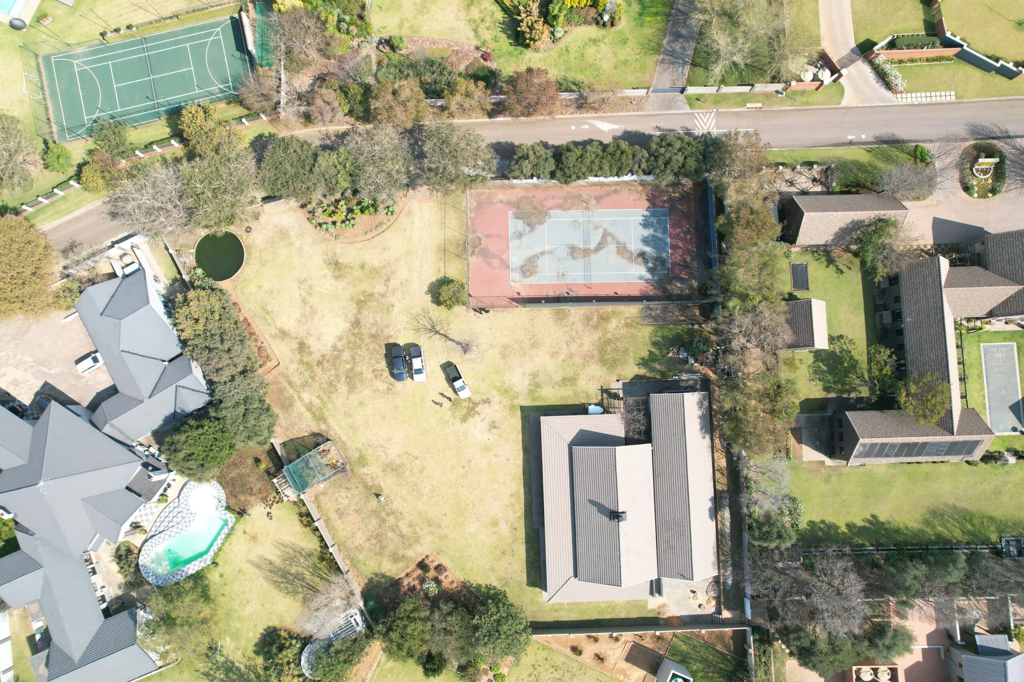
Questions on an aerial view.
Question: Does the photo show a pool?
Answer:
Yes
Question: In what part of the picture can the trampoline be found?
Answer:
right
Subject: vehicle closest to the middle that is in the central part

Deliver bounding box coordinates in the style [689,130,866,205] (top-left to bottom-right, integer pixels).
[446,362,472,400]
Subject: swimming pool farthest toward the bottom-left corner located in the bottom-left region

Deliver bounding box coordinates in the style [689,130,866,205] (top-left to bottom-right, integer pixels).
[135,479,228,577]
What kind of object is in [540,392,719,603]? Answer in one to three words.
house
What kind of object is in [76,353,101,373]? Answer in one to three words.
car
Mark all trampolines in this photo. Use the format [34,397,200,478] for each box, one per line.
[788,261,811,292]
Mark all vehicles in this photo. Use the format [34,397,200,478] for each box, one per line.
[410,345,428,383]
[391,345,409,383]
[32,396,49,410]
[9,402,34,420]
[446,362,472,400]
[76,353,101,373]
